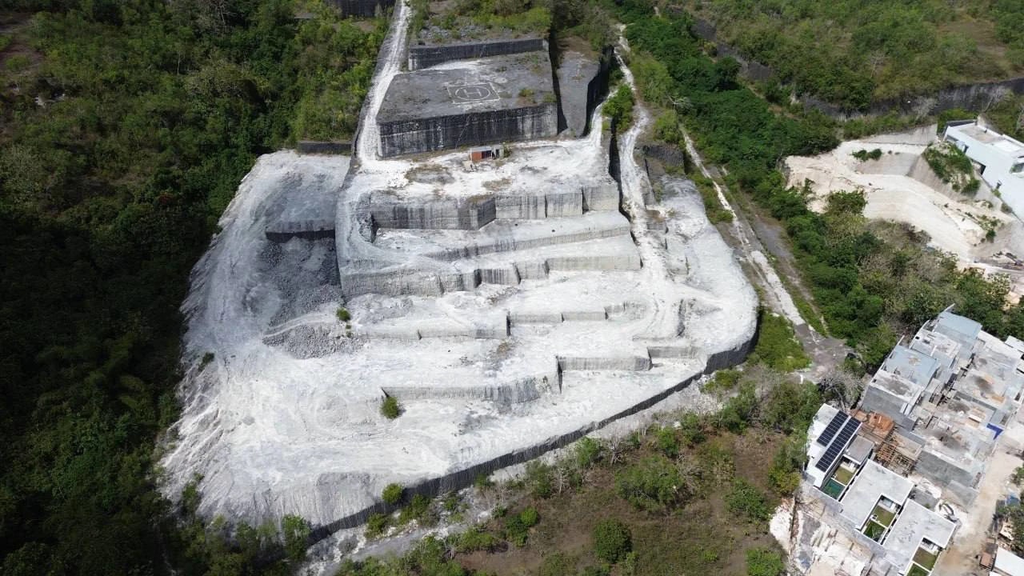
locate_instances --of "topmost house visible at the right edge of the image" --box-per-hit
[938,120,1024,226]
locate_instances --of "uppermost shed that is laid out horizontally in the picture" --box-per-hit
[465,142,503,160]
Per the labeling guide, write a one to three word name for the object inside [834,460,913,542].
house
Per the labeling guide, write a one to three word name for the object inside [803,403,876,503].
house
